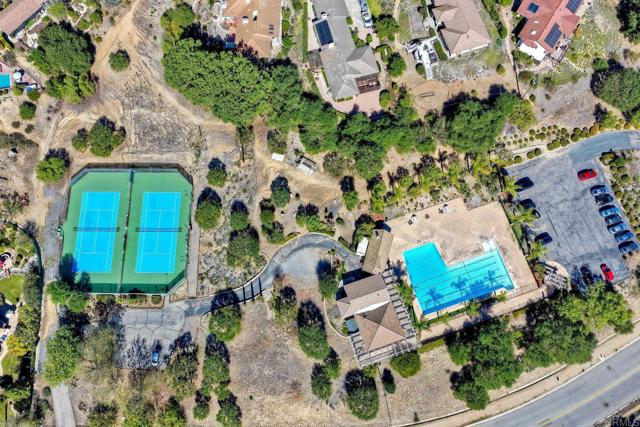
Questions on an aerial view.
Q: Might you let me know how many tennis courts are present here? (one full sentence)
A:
The number of tennis courts here is 2.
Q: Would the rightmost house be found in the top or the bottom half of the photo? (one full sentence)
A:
It is in the top half that the rightmost house appears.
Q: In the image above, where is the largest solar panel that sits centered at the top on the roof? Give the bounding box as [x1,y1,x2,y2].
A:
[316,20,330,46]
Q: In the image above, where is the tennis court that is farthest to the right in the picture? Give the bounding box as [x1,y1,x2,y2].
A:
[120,171,191,291]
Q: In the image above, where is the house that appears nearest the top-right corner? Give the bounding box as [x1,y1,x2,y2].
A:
[514,0,582,53]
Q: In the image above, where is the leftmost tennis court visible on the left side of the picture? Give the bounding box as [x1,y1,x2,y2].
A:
[61,171,131,291]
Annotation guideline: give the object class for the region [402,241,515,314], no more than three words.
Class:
swimming pool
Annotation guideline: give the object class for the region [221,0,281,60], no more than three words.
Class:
house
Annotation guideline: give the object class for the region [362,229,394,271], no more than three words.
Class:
building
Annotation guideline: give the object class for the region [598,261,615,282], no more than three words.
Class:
car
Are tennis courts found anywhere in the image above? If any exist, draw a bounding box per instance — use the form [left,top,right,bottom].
[120,171,191,291]
[61,171,131,291]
